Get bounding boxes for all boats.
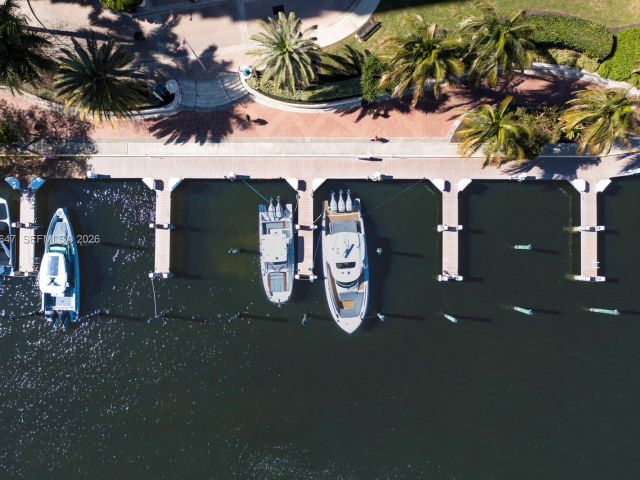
[0,199,19,285]
[258,196,294,308]
[39,208,84,332]
[322,189,368,336]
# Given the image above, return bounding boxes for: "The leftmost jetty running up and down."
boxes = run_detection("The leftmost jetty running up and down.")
[8,179,47,274]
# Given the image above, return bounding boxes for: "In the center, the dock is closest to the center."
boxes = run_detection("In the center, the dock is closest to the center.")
[285,179,326,281]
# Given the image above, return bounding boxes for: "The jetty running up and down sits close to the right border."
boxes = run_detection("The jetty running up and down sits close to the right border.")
[566,180,610,282]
